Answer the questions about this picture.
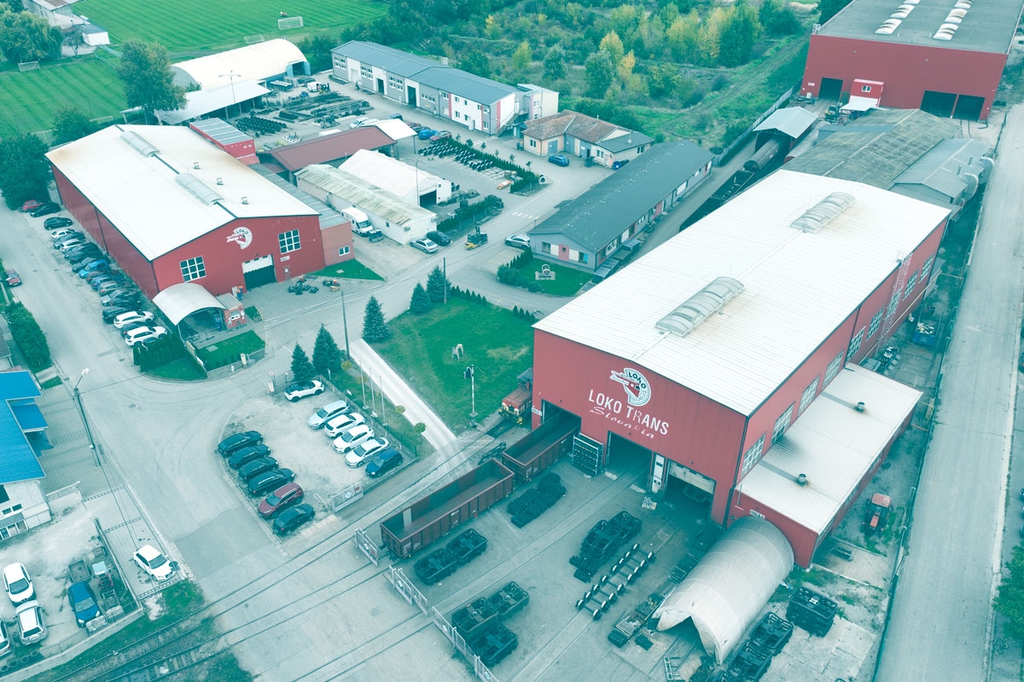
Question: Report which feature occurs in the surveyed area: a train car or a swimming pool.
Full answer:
This aerial view contains a train car.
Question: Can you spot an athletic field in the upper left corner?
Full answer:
Yes, there is an athletic field in the upper left corner.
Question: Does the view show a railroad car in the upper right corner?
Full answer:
Yes, you'll find a railroad car in the upper right corner.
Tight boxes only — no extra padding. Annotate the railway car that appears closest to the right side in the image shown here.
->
[794,135,817,156]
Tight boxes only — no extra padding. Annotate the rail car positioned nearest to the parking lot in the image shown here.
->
[377,456,518,564]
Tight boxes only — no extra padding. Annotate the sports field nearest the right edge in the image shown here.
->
[82,0,352,51]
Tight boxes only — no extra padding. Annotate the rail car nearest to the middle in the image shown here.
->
[491,361,531,427]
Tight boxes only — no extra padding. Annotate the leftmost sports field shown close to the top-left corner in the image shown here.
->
[0,55,135,151]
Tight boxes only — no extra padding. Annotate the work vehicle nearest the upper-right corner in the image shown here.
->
[826,98,838,119]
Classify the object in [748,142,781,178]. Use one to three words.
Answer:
rail car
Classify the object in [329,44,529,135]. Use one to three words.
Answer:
building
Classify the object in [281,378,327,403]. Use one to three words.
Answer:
car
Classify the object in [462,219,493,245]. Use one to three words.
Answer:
work vehicle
